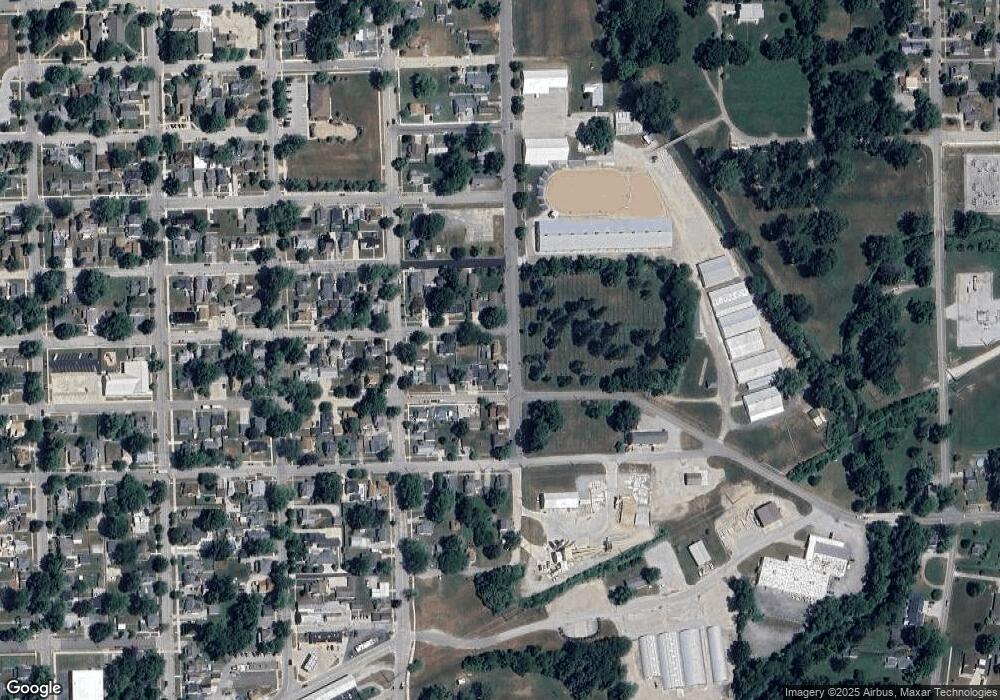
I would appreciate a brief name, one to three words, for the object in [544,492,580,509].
building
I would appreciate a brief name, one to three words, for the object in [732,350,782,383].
barn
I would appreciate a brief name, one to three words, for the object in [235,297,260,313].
house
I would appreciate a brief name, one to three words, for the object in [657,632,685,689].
shed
